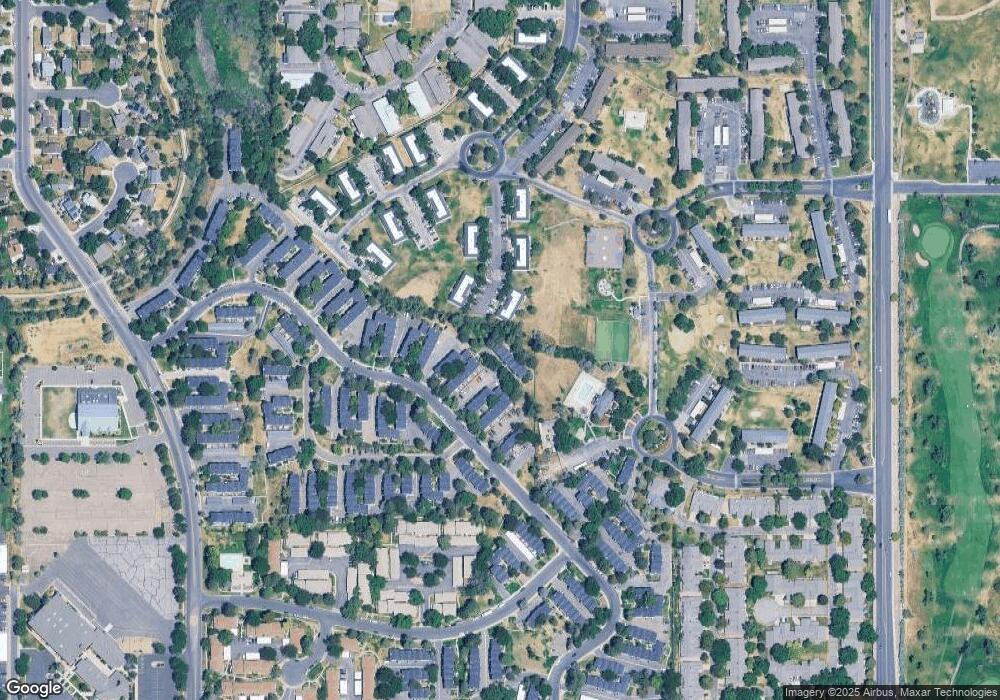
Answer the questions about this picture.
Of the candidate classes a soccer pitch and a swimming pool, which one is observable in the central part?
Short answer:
swimming pool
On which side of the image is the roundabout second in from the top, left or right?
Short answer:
right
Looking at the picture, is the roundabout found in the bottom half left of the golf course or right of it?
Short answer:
left of it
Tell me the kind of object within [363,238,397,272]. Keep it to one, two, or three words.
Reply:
building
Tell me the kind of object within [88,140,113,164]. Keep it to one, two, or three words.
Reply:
house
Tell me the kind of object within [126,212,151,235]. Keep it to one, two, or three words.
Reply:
house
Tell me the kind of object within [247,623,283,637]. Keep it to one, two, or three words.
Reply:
building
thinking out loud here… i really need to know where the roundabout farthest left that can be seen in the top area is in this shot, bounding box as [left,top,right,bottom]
[460,133,506,180]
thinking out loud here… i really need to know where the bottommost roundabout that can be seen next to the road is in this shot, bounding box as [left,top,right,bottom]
[630,413,679,461]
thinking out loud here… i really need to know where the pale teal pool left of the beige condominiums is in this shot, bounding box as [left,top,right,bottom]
[219,552,251,569]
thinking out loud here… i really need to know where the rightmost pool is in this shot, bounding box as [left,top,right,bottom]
[564,372,605,416]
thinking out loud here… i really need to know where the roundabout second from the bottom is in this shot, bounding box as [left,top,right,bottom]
[631,207,679,255]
